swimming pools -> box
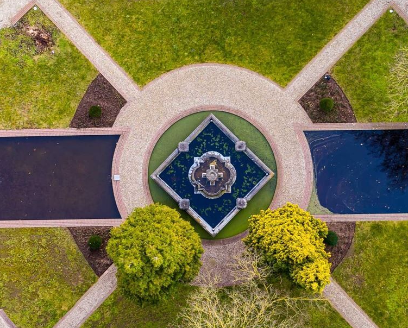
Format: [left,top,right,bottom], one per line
[295,123,408,220]
[0,128,130,227]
